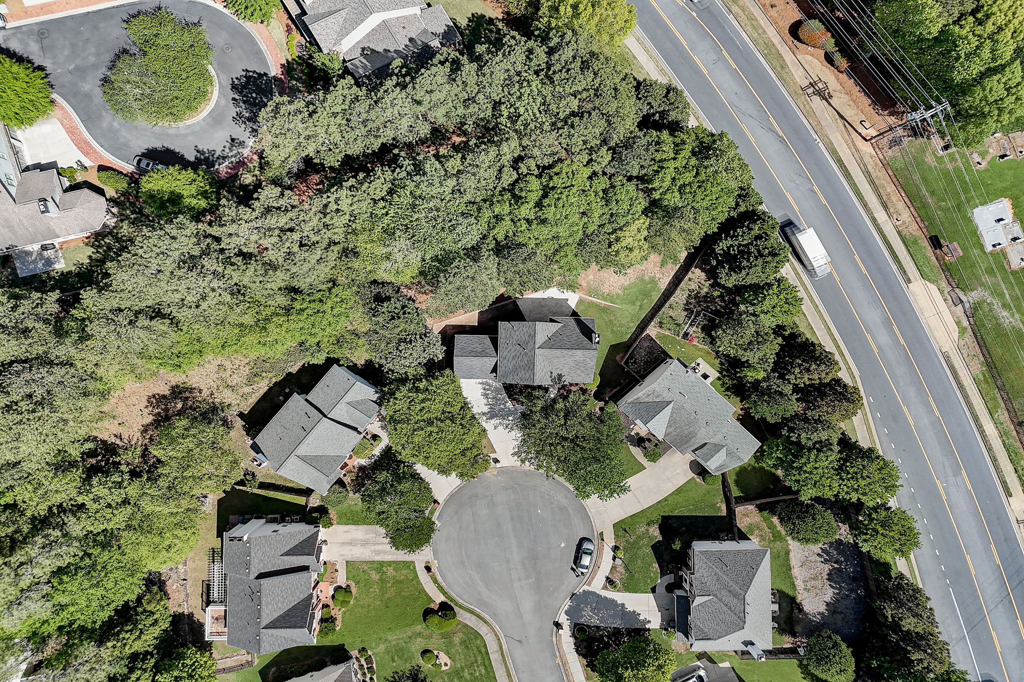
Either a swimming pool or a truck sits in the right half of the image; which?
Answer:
truck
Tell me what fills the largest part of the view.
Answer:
trees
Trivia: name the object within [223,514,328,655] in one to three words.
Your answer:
house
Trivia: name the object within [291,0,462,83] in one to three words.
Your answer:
house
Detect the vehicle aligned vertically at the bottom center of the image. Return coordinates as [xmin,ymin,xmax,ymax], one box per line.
[575,537,595,578]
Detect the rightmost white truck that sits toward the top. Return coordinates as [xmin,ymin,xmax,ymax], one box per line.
[791,220,828,283]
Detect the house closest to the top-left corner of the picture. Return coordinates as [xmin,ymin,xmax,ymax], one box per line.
[0,116,119,257]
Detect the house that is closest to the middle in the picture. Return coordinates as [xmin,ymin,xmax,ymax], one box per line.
[454,317,603,385]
